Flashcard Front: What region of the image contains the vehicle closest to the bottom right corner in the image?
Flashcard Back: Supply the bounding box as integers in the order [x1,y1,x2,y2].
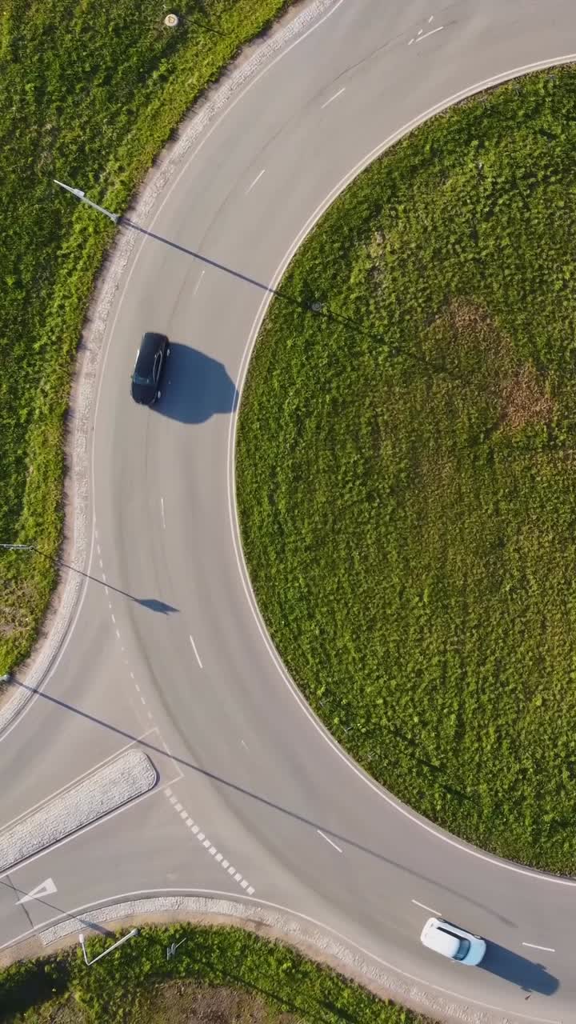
[422,917,486,966]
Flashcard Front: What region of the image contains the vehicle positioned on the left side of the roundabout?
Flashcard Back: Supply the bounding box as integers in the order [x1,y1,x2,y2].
[127,332,170,406]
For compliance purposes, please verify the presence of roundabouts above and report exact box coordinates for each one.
[233,61,576,879]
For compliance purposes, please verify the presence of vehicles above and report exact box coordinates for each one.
[422,917,486,966]
[127,332,170,406]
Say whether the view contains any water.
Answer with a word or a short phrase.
No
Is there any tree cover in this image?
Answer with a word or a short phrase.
No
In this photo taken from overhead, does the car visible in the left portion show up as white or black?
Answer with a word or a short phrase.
black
